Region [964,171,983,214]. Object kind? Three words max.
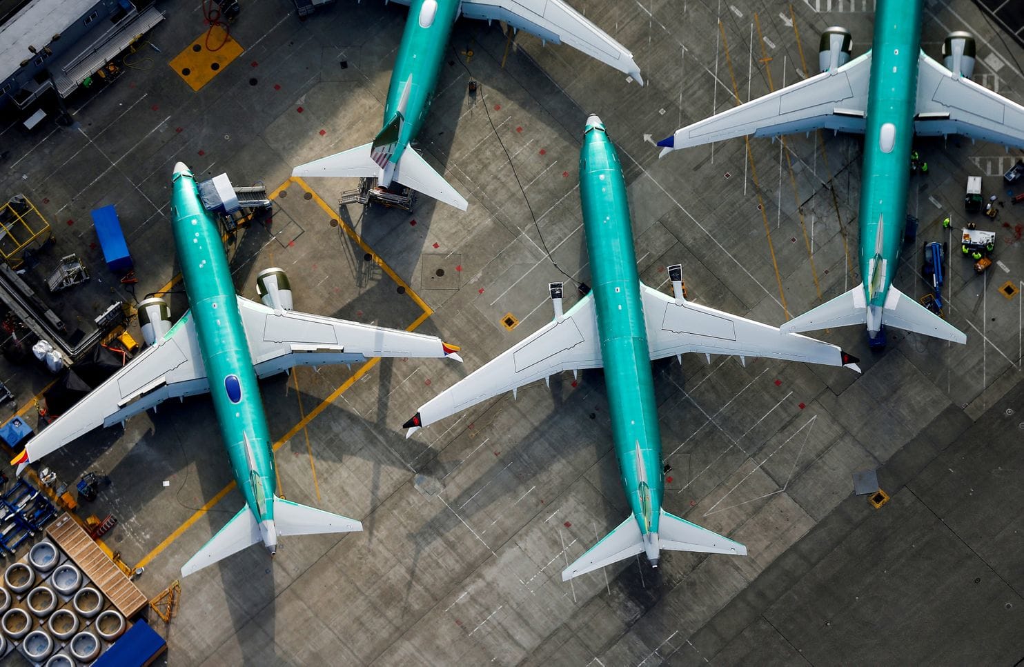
vehicle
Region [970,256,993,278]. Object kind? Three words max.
work vehicle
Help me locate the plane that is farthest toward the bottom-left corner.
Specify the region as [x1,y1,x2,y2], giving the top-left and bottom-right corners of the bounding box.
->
[14,163,463,575]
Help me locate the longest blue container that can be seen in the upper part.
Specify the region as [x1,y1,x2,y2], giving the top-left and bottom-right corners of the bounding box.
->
[90,204,134,272]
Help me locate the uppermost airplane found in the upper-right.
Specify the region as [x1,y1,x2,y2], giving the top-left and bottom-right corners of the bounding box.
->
[657,0,1024,341]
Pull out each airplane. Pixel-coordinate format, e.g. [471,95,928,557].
[657,0,1024,341]
[402,114,860,578]
[14,163,463,575]
[292,0,641,207]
